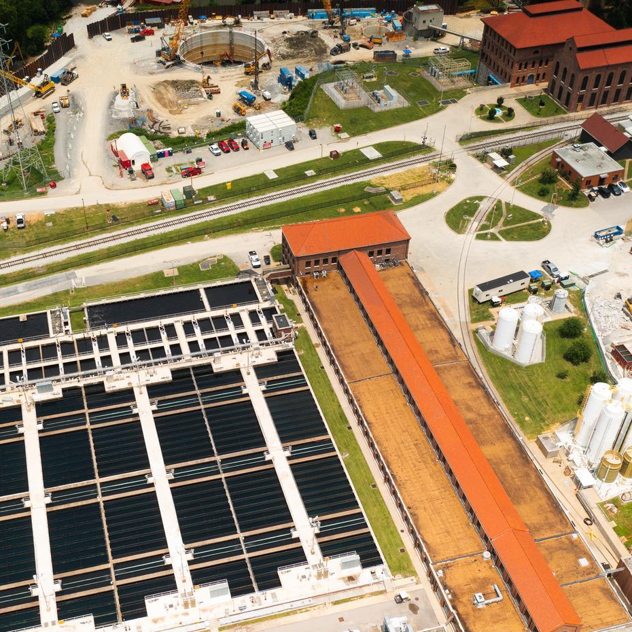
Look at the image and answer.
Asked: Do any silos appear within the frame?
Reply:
Yes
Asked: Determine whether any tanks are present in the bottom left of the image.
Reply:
No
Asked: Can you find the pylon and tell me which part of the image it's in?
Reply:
top left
